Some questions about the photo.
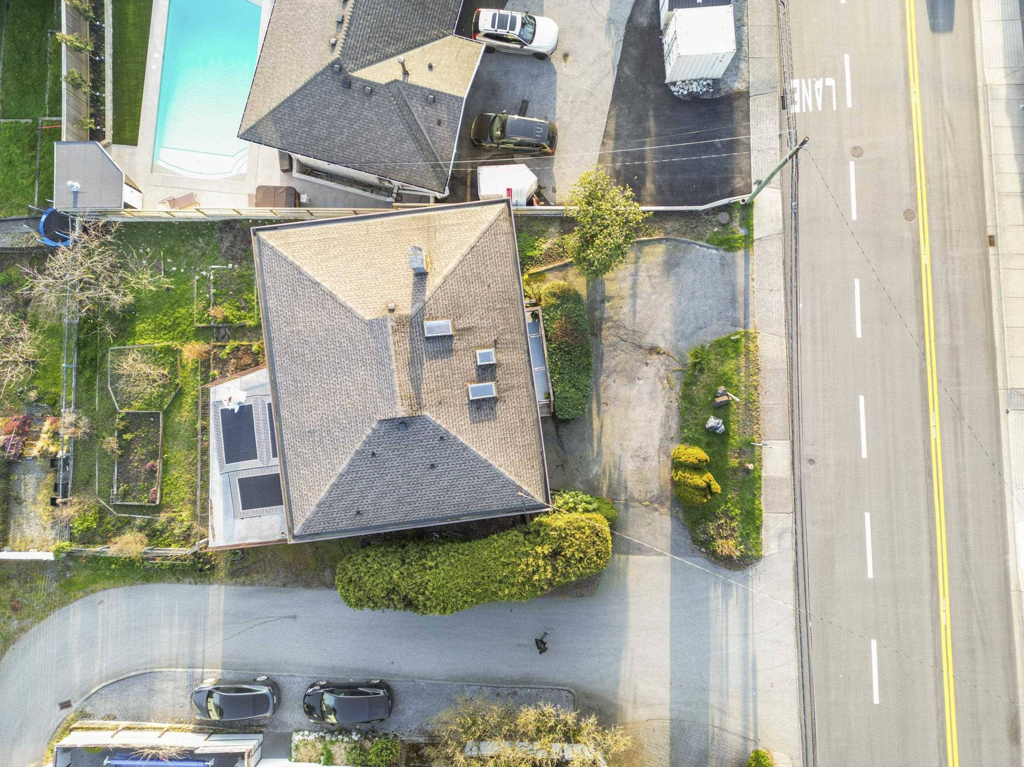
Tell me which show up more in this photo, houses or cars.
cars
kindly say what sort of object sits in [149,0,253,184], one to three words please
swimming pool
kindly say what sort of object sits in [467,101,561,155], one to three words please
car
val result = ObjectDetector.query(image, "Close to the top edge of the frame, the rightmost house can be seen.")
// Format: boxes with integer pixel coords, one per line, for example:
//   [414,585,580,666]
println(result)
[234,0,487,203]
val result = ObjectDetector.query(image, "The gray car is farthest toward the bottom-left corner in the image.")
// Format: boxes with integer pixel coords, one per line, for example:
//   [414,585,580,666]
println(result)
[189,679,274,728]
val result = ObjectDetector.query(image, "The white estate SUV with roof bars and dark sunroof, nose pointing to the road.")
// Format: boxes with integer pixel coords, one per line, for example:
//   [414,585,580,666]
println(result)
[468,1,563,59]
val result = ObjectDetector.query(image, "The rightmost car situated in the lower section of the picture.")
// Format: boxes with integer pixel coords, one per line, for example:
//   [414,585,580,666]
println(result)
[302,682,386,731]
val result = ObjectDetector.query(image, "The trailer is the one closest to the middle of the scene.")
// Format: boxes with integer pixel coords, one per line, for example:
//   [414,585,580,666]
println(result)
[477,164,552,207]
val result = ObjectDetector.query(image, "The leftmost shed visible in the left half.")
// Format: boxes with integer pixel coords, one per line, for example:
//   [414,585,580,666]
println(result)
[53,141,144,211]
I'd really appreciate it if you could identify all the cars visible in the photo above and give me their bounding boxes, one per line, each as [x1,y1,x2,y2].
[467,101,561,155]
[189,679,274,728]
[468,1,563,59]
[302,682,386,731]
